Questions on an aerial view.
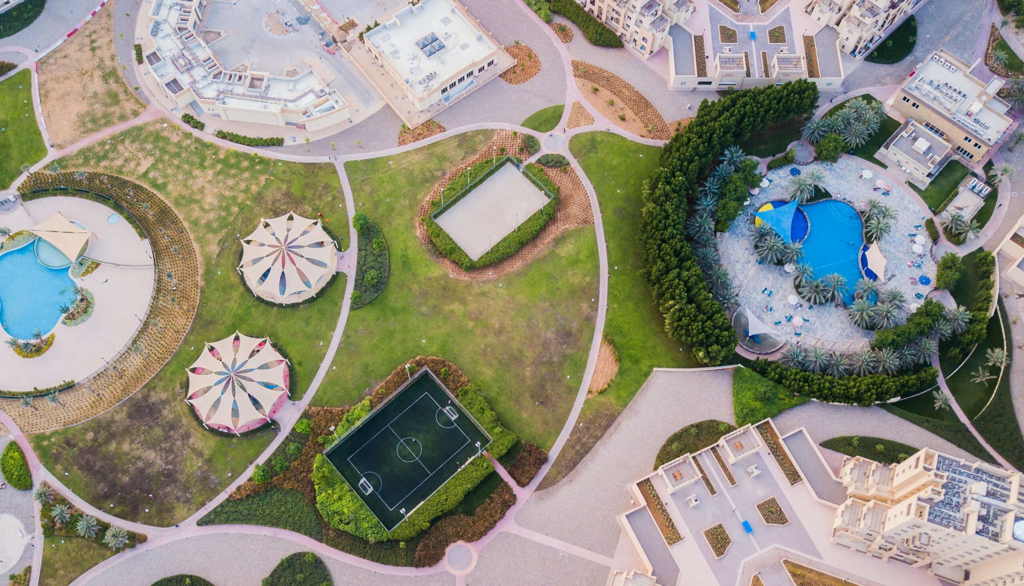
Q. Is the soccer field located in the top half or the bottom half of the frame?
bottom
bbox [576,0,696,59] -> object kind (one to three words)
building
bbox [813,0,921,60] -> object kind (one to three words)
building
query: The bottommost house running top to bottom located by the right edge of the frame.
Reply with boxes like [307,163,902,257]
[989,215,1024,298]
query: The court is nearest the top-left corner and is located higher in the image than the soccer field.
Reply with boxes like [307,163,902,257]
[436,162,548,260]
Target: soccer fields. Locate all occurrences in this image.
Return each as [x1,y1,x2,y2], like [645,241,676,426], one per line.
[326,372,491,530]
